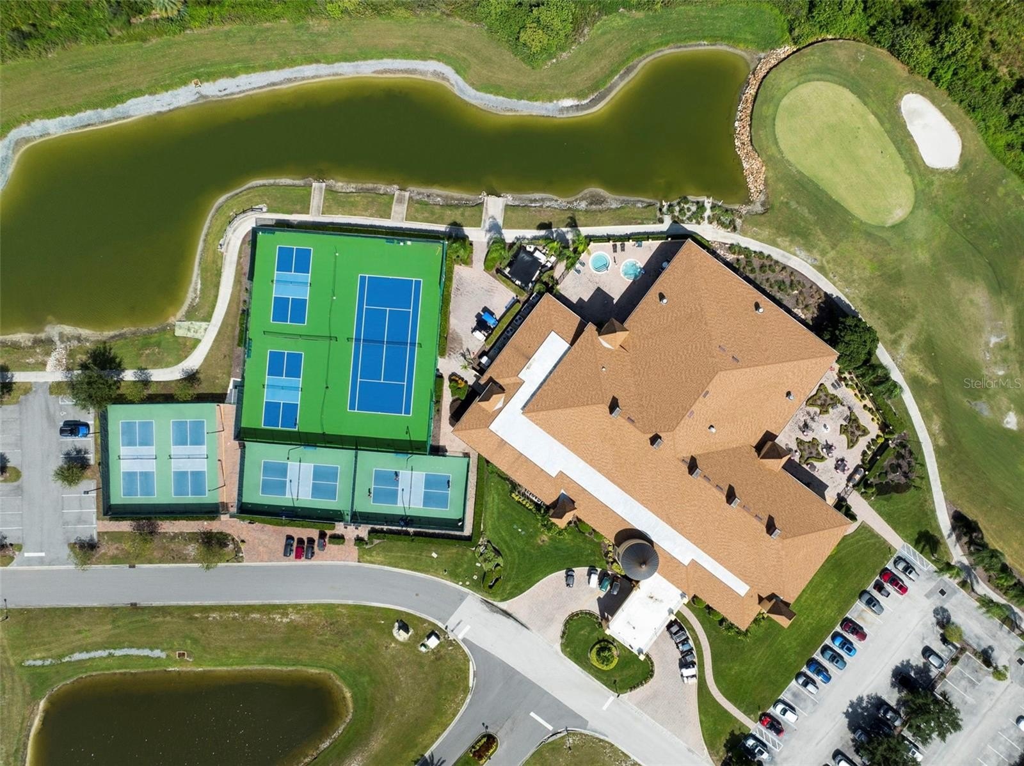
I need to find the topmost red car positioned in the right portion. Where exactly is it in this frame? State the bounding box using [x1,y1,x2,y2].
[882,572,912,598]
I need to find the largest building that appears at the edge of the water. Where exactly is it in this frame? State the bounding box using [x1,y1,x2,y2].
[452,239,853,653]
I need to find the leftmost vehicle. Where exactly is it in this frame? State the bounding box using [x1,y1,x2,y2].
[57,423,89,437]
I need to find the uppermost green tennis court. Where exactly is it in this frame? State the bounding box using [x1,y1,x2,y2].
[240,230,446,455]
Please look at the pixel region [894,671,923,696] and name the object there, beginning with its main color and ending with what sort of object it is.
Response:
black car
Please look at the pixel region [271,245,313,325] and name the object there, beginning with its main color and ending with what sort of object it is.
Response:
blue sports court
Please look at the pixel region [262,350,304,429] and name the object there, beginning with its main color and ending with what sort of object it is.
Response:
blue sports court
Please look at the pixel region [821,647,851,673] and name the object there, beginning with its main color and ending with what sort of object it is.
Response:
blue car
